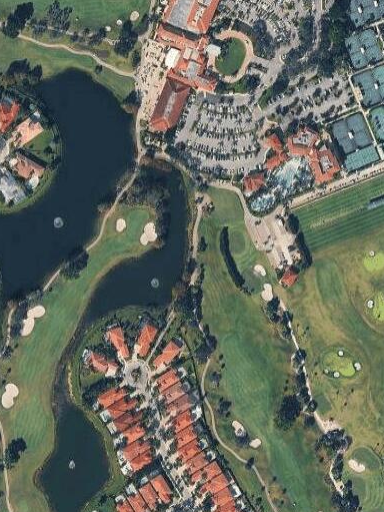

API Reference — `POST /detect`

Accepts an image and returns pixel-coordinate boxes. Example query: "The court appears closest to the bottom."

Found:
[343,147,380,171]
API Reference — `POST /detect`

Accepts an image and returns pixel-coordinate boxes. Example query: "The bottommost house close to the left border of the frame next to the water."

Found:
[0,171,26,204]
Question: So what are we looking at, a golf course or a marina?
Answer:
golf course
